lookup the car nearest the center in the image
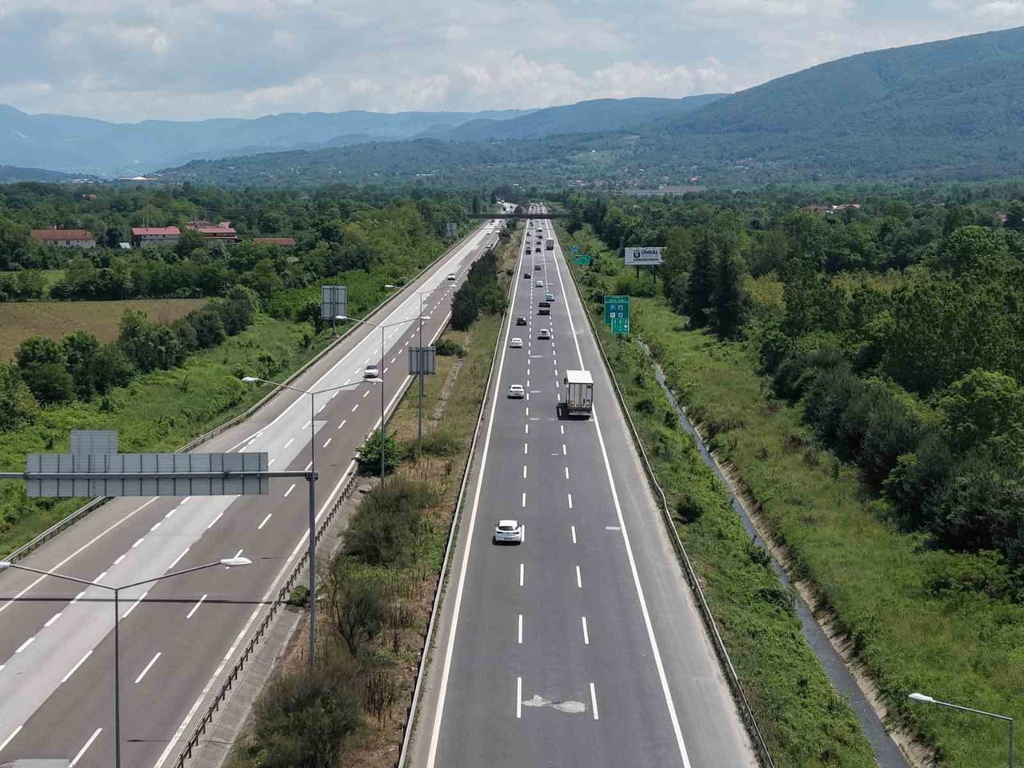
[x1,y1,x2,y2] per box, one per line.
[508,382,525,396]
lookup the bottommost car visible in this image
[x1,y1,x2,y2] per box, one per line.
[494,515,522,540]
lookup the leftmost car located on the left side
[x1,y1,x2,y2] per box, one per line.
[364,363,381,377]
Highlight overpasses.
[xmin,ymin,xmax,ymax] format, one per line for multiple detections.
[454,211,583,231]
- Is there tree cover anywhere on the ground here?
Yes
